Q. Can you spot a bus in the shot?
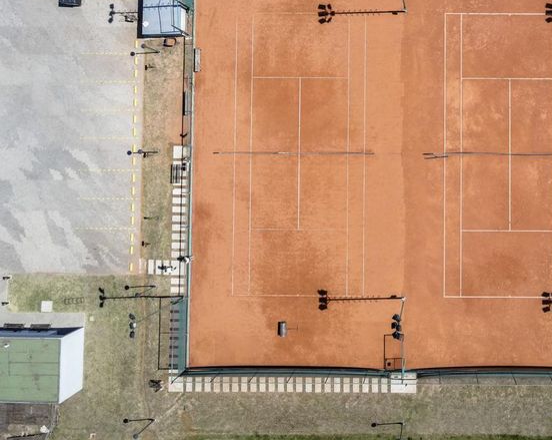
No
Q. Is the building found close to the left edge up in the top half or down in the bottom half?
bottom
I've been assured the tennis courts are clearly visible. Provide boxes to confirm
[187,0,404,369]
[404,0,552,369]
